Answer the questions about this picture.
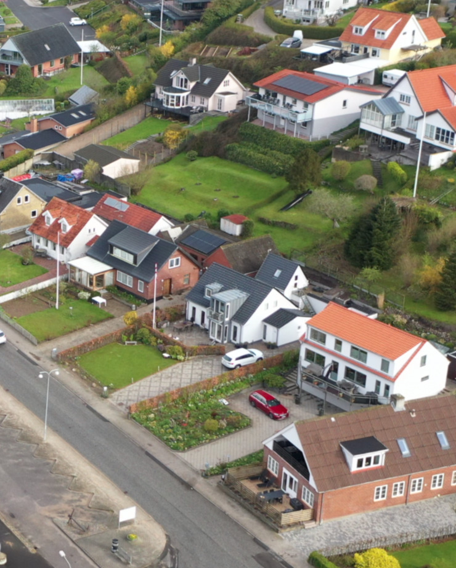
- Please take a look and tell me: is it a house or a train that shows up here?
house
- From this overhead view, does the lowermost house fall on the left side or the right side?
right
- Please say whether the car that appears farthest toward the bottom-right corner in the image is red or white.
red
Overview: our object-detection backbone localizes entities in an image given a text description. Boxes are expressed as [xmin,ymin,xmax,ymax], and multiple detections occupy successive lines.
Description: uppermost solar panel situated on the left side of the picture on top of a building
[102,195,130,210]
